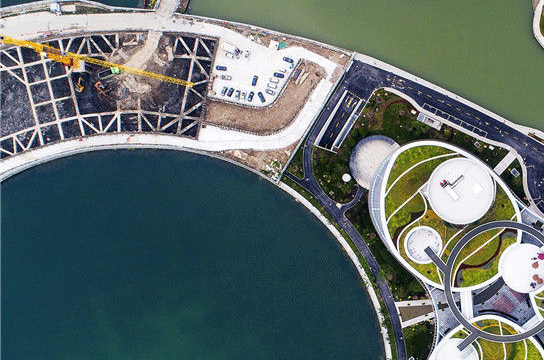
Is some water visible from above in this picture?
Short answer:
Yes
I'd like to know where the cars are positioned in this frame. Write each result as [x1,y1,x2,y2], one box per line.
[227,86,234,99]
[282,57,294,63]
[221,84,229,97]
[241,90,248,101]
[258,91,266,103]
[277,65,289,73]
[273,71,285,78]
[267,82,279,89]
[270,76,281,83]
[252,75,259,87]
[265,88,276,96]
[247,90,255,102]
[220,75,231,81]
[235,88,242,100]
